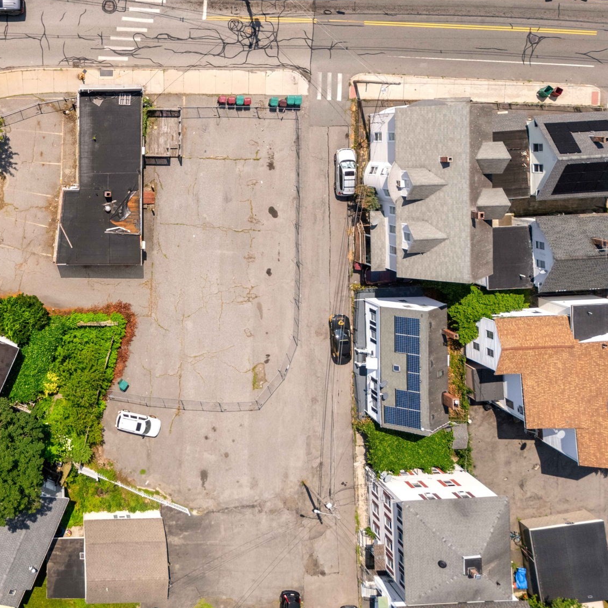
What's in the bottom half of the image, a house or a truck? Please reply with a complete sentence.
What appears in the bottom half of the image is a house.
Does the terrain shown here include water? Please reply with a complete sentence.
No, there is no water in the image.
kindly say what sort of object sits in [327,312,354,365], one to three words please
car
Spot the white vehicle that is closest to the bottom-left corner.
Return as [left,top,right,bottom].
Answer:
[113,408,163,440]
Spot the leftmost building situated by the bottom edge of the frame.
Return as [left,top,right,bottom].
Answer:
[0,474,70,606]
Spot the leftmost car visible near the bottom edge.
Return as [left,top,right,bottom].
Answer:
[276,590,300,608]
